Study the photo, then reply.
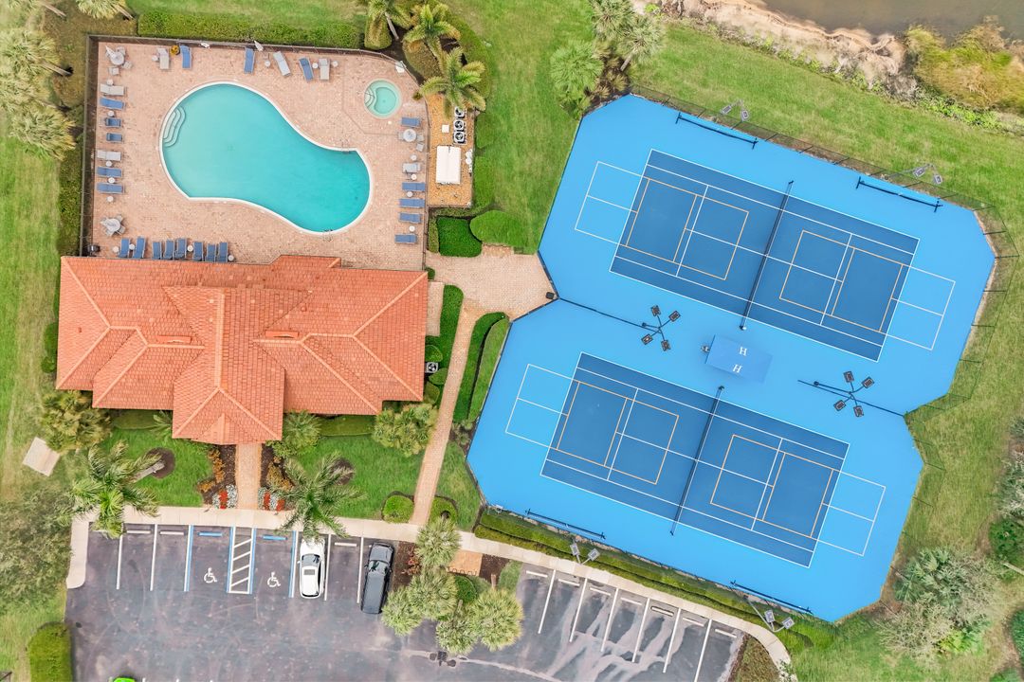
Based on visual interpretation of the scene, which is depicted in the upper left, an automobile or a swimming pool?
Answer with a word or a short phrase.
swimming pool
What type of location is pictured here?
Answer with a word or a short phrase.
sports ground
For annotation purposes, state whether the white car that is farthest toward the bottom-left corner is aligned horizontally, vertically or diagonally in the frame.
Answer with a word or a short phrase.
vertically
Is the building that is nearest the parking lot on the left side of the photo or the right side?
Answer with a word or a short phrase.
left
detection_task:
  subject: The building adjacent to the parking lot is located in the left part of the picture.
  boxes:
[55,254,428,449]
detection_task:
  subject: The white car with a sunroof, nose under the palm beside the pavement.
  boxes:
[296,541,324,600]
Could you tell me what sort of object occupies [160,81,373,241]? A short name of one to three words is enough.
swimming pool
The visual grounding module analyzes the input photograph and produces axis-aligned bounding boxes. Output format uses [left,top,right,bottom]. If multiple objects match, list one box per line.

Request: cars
[361,546,393,619]
[296,541,324,600]
[111,677,135,682]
